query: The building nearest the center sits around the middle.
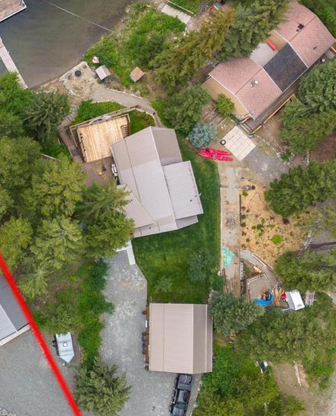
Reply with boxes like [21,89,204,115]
[77,114,204,238]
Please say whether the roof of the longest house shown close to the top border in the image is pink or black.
pink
